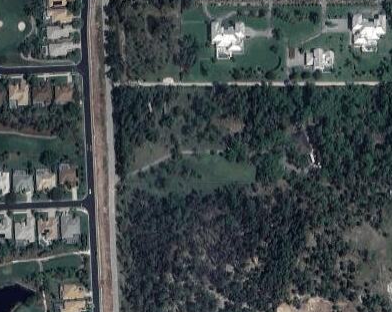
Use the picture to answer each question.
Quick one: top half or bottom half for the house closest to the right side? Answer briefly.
top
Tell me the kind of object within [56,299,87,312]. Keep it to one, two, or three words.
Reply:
house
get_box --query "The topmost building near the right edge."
[351,14,387,44]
